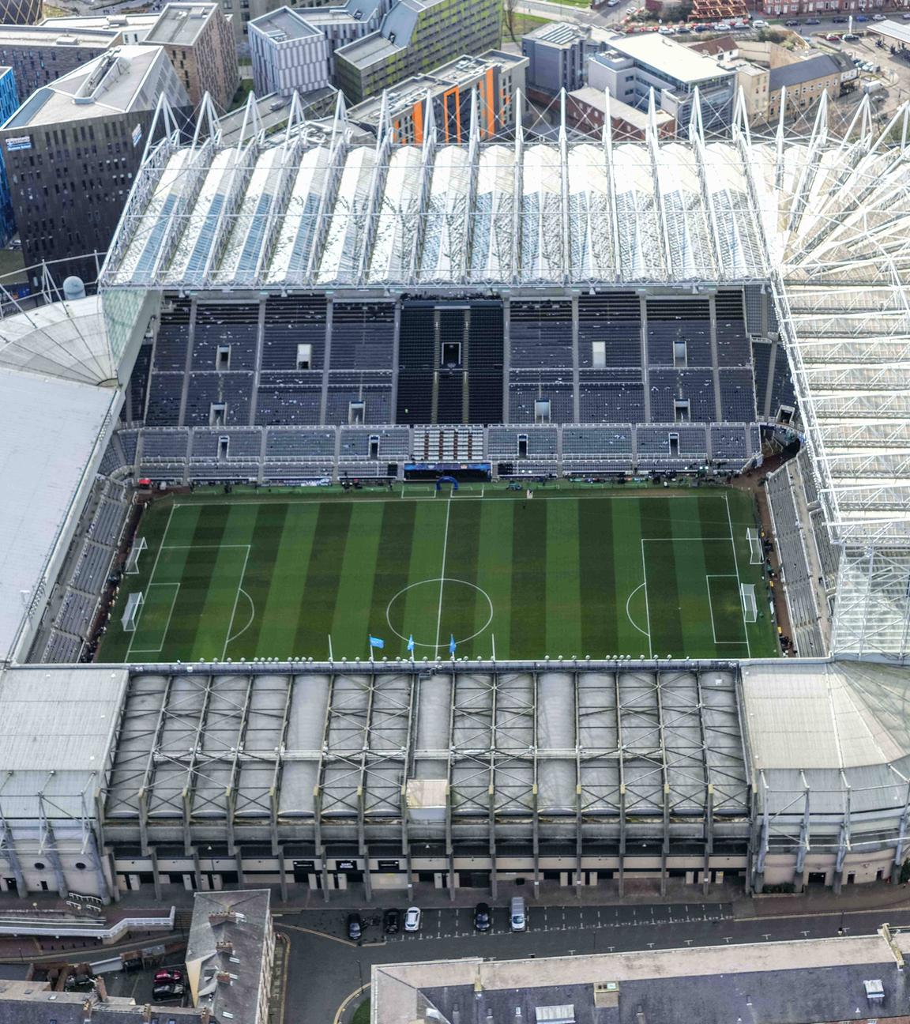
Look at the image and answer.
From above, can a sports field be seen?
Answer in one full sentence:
Yes, looking at the shot, I can spot a sports field.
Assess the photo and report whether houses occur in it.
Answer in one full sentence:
Yes, you can see a house in this photo.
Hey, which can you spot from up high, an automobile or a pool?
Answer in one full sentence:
The image shows an automobile.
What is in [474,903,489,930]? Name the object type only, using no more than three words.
car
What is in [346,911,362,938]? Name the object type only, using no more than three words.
car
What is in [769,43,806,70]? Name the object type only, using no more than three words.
shed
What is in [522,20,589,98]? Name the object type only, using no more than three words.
building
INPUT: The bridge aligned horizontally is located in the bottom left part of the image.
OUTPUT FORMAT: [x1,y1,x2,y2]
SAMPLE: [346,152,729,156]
[0,906,177,953]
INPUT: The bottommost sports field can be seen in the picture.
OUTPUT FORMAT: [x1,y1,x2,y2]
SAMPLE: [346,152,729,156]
[102,494,751,772]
